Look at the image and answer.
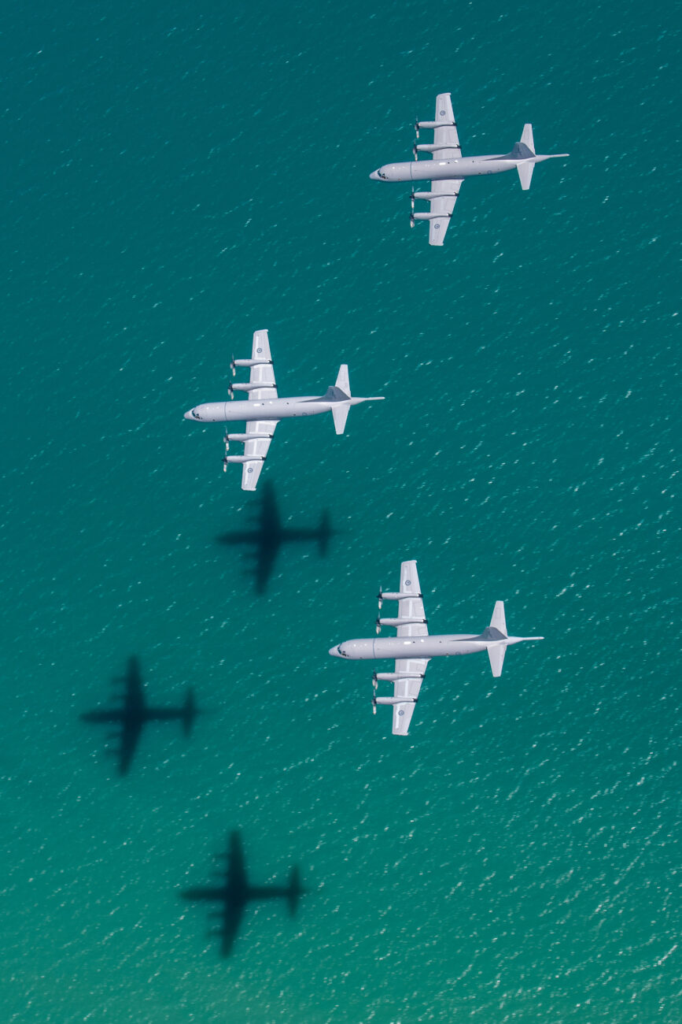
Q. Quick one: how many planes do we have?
three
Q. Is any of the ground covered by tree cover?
No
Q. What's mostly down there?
water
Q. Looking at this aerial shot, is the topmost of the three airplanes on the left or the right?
right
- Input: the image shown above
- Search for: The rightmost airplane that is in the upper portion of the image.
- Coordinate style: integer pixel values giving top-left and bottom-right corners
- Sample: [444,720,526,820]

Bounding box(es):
[370,92,569,246]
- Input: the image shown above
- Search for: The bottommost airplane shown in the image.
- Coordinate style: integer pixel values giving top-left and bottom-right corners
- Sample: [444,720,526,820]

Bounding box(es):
[329,558,544,738]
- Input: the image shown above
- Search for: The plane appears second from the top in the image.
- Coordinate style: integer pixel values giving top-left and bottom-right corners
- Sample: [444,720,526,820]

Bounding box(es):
[185,329,384,492]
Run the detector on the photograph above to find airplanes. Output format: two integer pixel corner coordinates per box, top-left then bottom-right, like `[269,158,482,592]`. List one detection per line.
[370,92,569,246]
[329,558,544,738]
[185,329,384,492]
